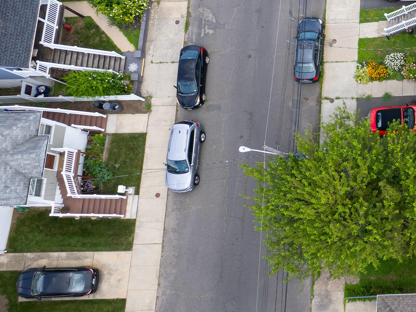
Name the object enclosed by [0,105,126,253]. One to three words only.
house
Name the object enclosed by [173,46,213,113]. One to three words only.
car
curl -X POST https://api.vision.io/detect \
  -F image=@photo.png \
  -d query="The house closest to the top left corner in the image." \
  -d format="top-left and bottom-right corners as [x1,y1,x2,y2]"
[0,0,127,94]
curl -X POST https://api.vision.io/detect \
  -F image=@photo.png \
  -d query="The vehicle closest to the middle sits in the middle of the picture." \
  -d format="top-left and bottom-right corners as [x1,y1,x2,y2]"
[164,124,207,195]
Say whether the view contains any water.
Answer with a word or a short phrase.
No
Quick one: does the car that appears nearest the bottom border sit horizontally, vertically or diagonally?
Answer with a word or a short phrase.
horizontally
